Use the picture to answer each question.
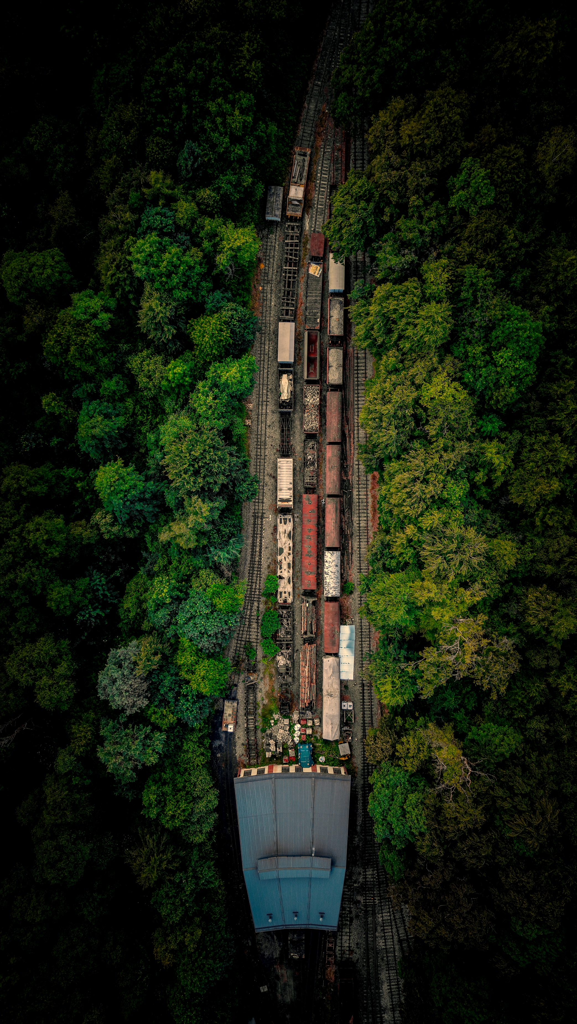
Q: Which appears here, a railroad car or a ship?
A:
railroad car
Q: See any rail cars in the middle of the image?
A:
Yes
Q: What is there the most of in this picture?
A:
trees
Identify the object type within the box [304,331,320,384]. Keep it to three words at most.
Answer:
rail car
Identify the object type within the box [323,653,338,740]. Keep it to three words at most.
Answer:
rail car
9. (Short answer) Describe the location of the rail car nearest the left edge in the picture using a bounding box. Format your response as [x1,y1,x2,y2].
[222,697,237,732]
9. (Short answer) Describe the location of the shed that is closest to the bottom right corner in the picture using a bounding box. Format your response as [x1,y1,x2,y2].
[233,764,351,933]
